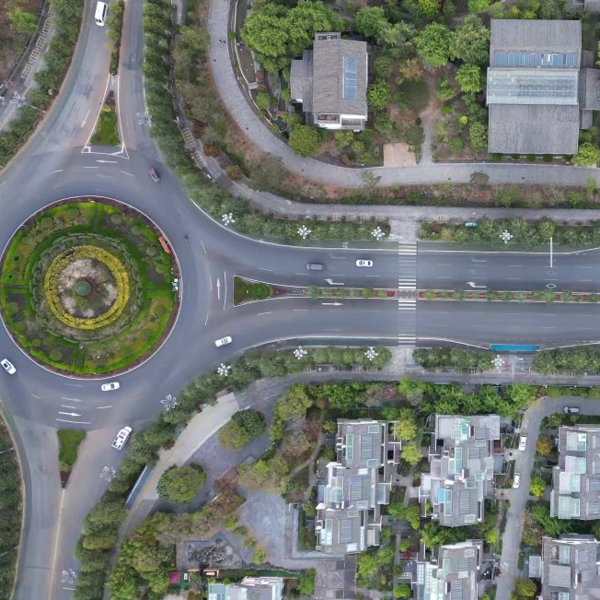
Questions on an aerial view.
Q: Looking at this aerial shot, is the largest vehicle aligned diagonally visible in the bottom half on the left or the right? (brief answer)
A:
left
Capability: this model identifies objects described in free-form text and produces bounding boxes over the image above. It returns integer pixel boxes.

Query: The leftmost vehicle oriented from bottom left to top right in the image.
[112,426,131,450]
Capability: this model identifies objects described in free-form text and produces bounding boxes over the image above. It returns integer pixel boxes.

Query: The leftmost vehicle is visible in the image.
[1,358,15,374]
